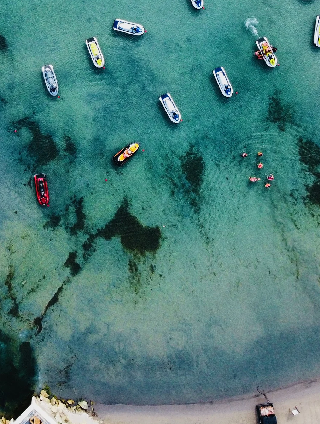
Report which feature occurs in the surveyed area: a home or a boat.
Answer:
boat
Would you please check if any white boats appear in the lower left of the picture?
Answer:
No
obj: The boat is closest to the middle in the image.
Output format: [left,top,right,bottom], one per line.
[114,141,140,165]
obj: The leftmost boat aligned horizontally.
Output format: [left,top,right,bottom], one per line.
[113,19,144,35]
